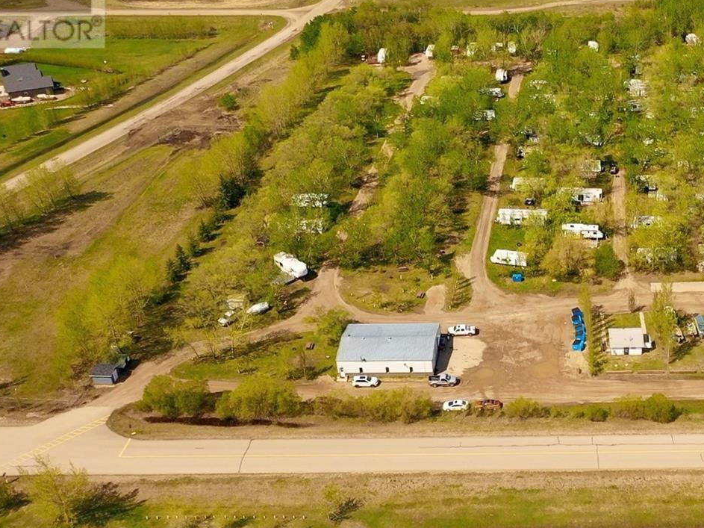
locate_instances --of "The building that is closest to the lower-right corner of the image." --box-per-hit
[608,322,651,355]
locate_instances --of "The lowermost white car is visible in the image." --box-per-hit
[441,400,469,412]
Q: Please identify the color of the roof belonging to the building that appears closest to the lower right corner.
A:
white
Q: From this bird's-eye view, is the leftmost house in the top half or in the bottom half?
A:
top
